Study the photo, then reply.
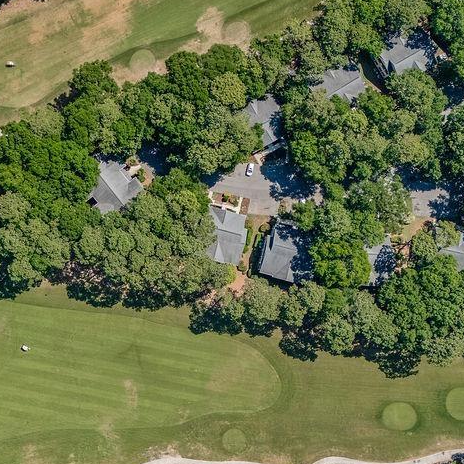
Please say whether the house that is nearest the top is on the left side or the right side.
right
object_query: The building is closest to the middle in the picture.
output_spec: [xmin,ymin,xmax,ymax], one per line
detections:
[205,202,249,265]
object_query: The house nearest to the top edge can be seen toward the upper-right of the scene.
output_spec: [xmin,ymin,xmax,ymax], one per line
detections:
[367,25,437,80]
